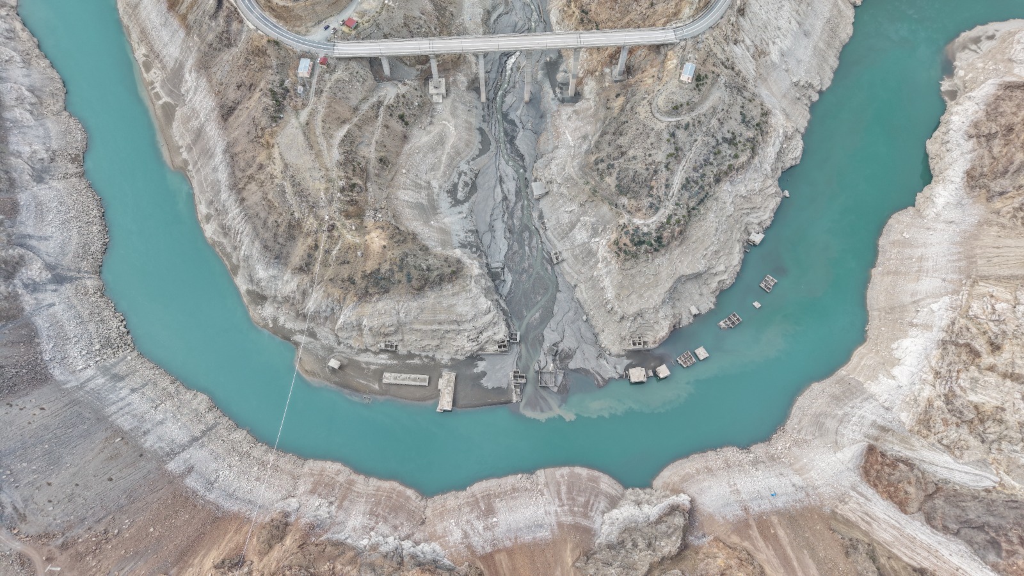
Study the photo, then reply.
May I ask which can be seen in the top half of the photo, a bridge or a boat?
bridge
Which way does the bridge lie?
horizontally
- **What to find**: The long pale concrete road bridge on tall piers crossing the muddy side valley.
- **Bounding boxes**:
[325,27,681,103]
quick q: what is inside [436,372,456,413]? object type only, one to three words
house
